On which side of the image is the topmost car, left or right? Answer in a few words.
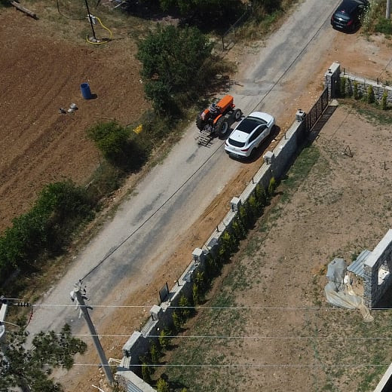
right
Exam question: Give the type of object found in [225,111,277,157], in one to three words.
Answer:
car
